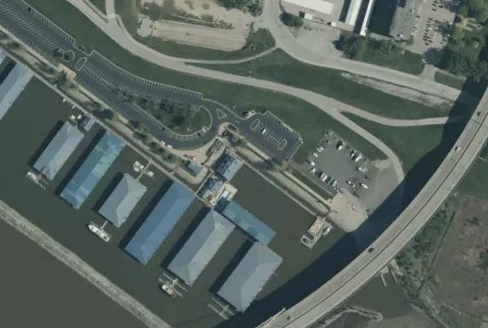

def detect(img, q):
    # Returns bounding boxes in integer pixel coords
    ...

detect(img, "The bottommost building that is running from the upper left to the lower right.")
[222,199,277,245]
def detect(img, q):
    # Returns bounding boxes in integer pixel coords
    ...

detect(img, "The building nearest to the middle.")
[216,153,243,182]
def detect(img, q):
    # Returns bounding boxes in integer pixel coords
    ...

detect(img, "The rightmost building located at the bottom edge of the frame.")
[217,241,284,313]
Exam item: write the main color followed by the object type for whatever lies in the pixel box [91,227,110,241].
white boat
